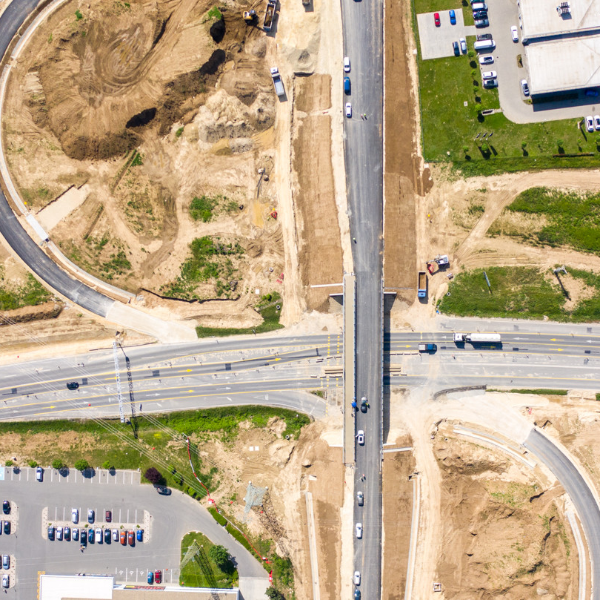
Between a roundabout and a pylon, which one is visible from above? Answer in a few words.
pylon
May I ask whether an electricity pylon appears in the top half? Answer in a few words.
No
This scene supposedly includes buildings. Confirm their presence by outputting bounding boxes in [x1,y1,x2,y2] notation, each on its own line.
[514,0,600,100]
[39,575,240,600]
